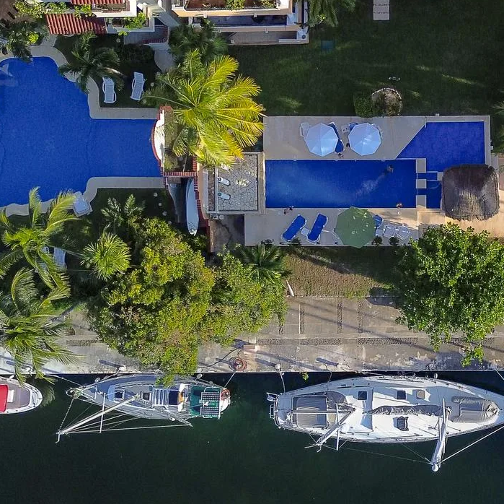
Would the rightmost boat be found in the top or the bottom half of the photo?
bottom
